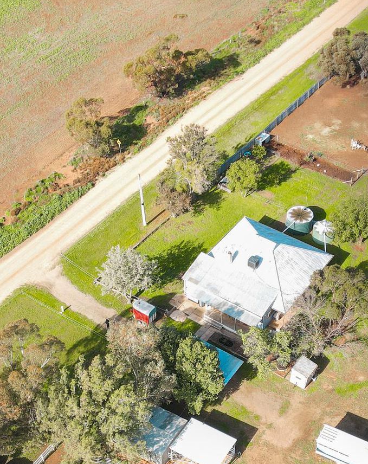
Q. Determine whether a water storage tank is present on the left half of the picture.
No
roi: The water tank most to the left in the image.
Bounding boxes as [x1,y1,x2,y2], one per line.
[286,206,313,235]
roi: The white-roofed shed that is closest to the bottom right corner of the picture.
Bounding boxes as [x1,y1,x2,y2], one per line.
[289,356,317,390]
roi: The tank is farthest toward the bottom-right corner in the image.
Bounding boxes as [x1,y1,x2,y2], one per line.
[311,220,335,246]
